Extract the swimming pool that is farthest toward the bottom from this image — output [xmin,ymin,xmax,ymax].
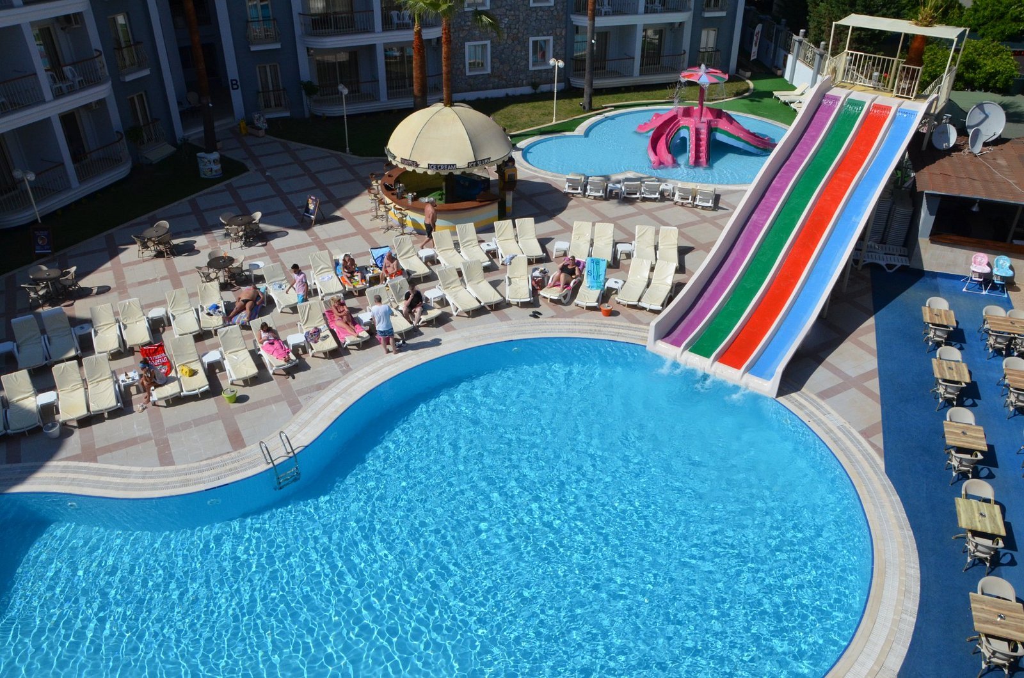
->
[0,338,874,678]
